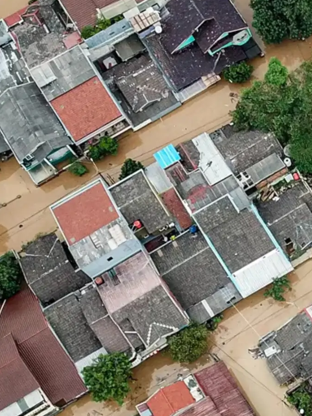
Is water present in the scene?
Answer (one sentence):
Yes, the picture does contain water.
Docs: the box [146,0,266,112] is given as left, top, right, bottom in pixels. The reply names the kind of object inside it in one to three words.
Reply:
house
